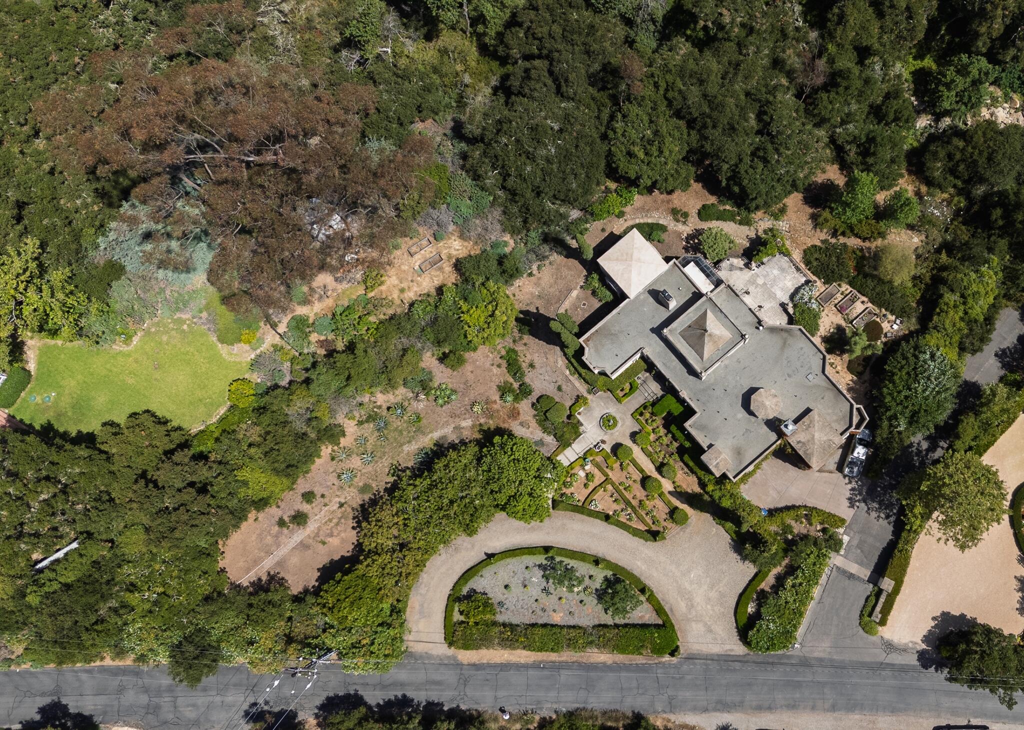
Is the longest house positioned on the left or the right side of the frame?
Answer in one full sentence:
The longest house sits on the right side.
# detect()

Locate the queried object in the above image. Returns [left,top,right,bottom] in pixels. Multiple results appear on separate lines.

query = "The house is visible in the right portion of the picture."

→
[579,227,869,483]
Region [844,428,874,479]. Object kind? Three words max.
truck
